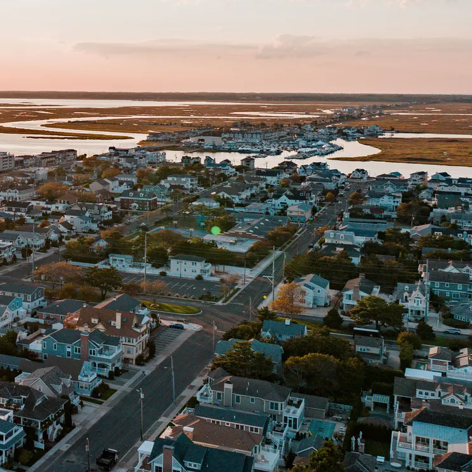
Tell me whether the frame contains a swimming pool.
Yes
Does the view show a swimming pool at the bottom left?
No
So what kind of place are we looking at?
residential area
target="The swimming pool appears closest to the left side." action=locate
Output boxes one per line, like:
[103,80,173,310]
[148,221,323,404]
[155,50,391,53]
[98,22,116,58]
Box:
[304,415,351,443]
